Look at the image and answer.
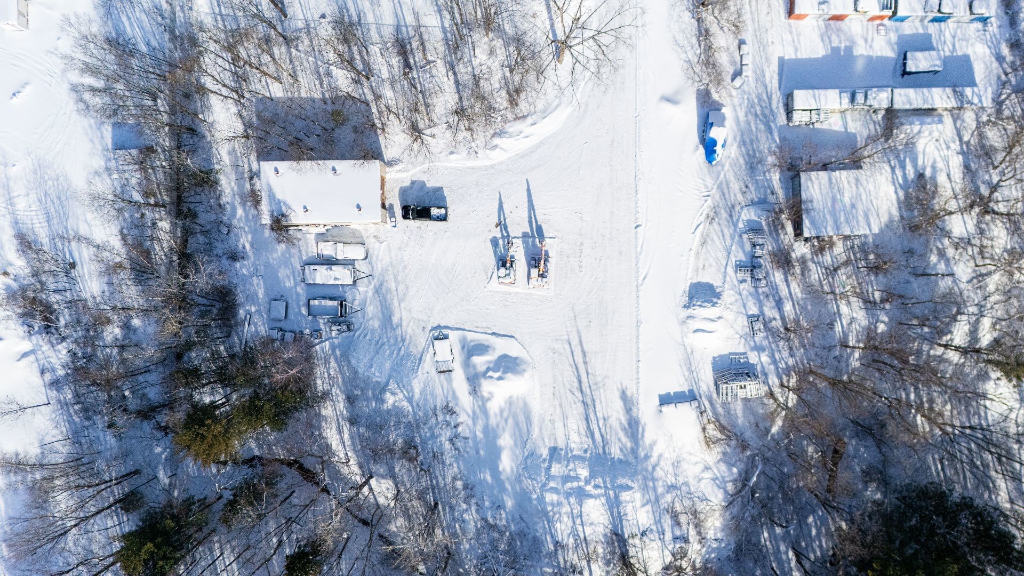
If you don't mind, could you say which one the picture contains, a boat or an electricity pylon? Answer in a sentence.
Visible in the photo is a boat.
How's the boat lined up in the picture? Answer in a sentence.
From this overhead view, the boat appears to run up and down.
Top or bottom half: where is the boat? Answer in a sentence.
It is in the top half that the boat appears.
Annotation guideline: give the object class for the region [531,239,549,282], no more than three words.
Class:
work vehicle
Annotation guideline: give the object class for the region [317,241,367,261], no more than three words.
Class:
vehicle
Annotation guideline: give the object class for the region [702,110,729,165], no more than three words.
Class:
boat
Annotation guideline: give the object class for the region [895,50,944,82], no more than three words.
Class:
shed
